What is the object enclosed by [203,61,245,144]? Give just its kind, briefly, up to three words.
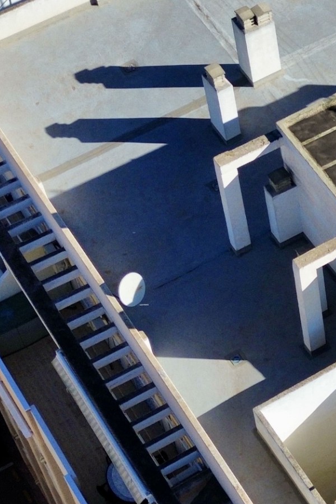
chimney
